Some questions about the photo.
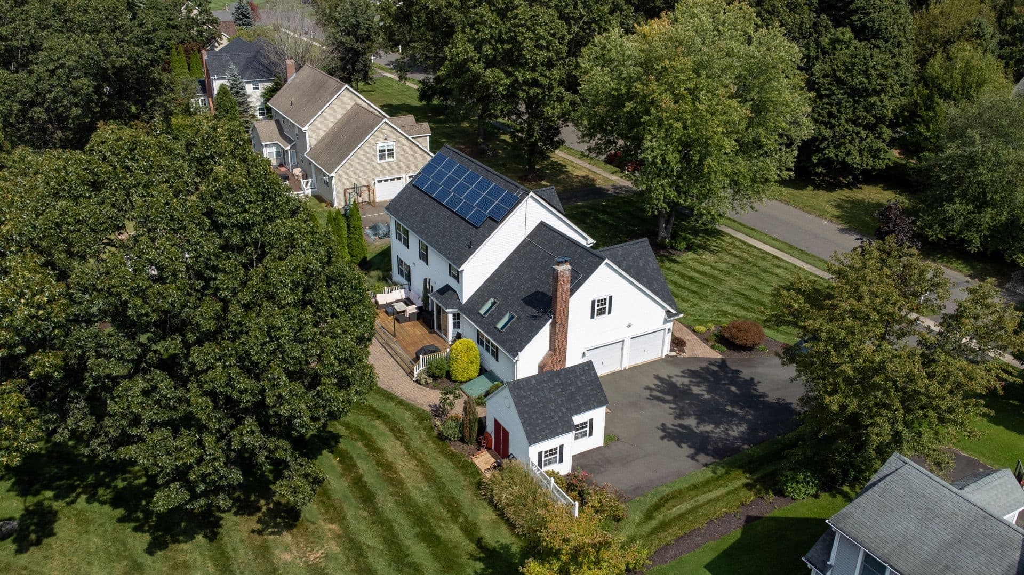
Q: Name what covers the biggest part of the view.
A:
trees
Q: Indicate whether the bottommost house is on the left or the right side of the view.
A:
right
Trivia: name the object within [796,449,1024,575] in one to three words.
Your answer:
house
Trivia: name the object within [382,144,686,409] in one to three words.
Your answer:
house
